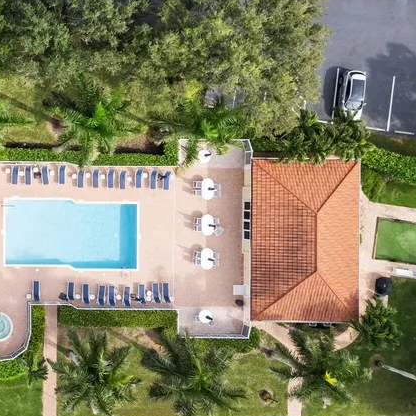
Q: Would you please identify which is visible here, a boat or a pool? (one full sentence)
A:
Visible in the photo is a pool.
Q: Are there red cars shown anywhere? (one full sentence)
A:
No, the frame has no red car in it.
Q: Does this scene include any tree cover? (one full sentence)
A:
Yes, there is tree cover in the image.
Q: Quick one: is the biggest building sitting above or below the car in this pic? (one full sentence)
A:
In the image, the biggest building sits below the car.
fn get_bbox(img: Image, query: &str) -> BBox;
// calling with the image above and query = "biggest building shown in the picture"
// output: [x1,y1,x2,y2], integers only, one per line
[237,160,361,322]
